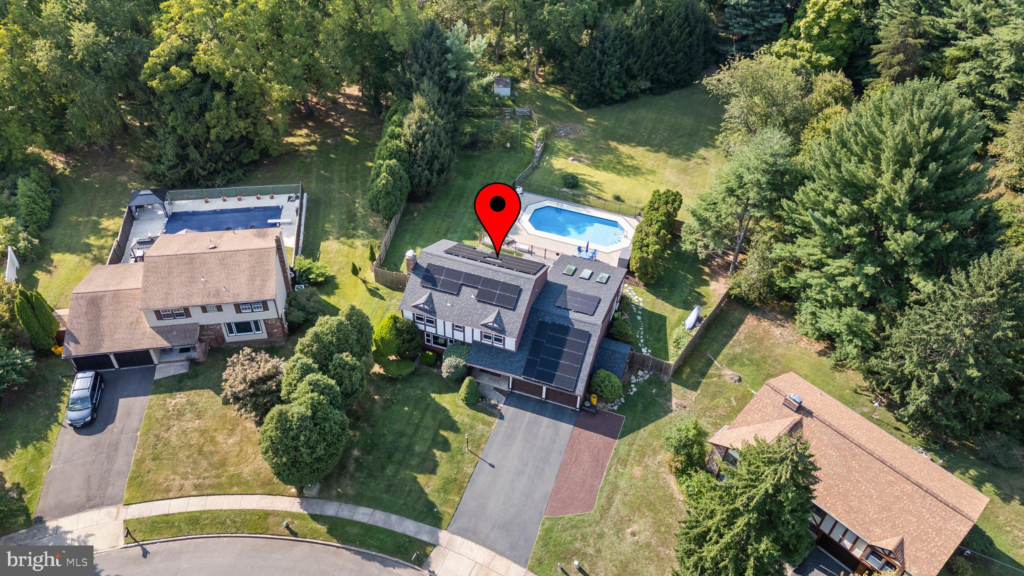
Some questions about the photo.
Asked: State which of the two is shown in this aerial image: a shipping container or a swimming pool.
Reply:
swimming pool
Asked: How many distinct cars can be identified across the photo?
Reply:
1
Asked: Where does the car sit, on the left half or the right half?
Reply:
left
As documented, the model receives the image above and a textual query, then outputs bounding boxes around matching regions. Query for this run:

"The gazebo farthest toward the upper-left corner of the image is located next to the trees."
[126,184,178,222]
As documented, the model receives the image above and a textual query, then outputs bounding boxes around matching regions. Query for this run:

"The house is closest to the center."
[398,240,632,411]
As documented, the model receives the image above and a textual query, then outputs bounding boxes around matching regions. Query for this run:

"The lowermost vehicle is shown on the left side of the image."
[64,371,106,431]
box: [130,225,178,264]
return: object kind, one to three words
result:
gazebo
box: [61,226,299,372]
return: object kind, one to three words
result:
house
